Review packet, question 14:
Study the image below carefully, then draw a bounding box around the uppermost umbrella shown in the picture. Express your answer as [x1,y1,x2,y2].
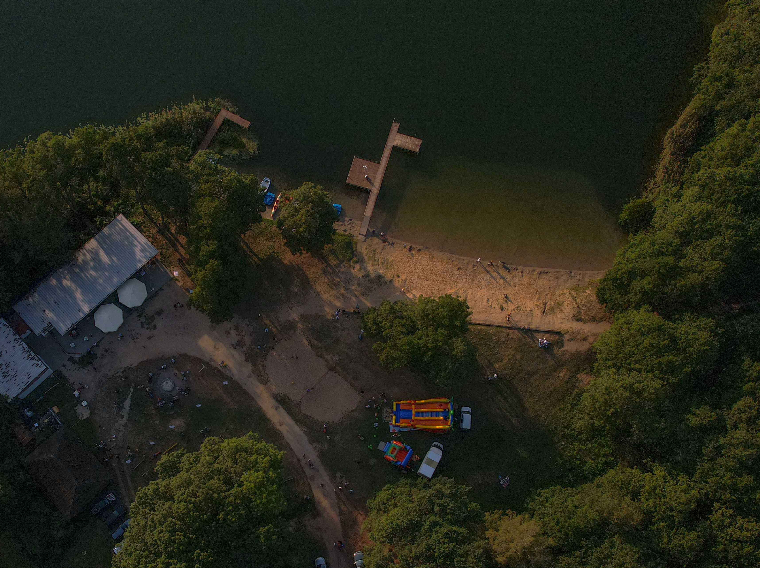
[118,279,148,307]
